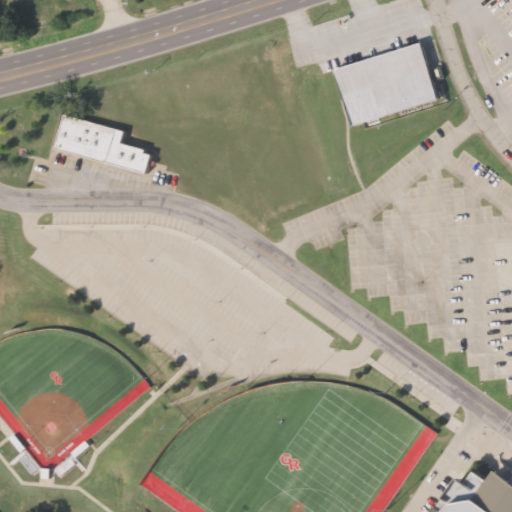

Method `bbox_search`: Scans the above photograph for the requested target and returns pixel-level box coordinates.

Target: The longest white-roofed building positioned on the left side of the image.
[54,114,154,174]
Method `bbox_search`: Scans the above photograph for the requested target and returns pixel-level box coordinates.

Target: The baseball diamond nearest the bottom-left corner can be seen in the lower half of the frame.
[0,328,152,466]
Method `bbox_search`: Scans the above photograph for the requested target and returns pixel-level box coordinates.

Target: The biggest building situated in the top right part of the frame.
[333,42,440,126]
